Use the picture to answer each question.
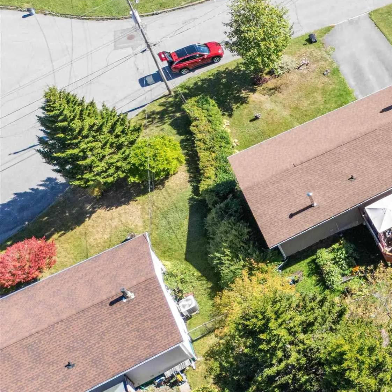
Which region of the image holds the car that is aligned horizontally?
top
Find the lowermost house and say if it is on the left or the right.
left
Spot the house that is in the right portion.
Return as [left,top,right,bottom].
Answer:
[230,85,392,260]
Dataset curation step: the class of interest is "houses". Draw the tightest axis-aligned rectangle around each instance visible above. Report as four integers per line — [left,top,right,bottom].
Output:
[230,85,392,260]
[0,231,200,392]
